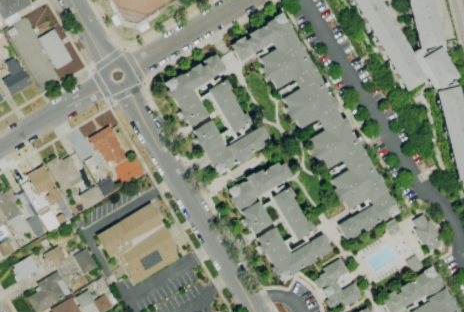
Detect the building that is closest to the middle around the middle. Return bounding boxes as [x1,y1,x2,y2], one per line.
[194,121,270,173]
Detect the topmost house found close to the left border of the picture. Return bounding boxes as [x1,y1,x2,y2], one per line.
[0,0,30,26]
